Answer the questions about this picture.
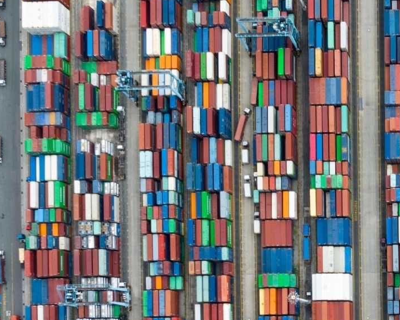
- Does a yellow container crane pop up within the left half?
No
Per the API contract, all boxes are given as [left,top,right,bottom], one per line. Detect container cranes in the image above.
[58,280,131,314]
[235,14,300,59]
[114,65,186,108]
